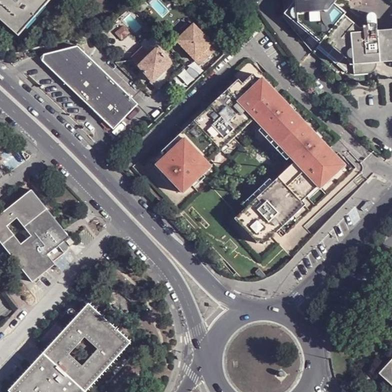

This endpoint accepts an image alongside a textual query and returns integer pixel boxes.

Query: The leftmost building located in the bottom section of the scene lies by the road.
[0,190,68,281]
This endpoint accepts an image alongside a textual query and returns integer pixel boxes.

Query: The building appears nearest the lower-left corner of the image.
[9,303,130,392]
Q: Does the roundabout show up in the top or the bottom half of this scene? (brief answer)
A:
bottom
